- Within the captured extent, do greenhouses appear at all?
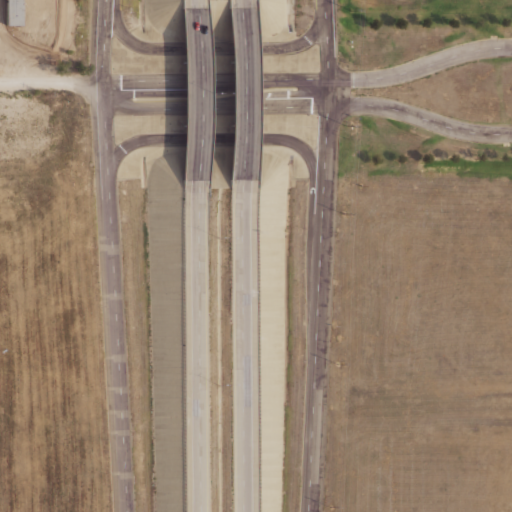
No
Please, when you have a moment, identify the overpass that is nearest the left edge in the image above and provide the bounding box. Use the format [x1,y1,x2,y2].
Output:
[185,0,214,202]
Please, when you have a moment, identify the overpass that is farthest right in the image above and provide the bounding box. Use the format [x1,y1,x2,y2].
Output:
[231,0,262,202]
